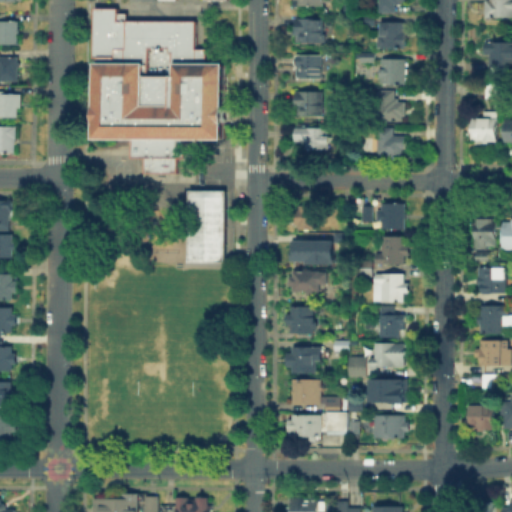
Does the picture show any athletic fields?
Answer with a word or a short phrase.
Yes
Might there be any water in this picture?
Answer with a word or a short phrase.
No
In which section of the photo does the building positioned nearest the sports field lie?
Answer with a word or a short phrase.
center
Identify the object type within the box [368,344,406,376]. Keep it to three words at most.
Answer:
house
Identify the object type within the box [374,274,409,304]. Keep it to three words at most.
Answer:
house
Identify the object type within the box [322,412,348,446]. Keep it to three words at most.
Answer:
building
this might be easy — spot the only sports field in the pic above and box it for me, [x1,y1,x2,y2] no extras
[88,257,229,447]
